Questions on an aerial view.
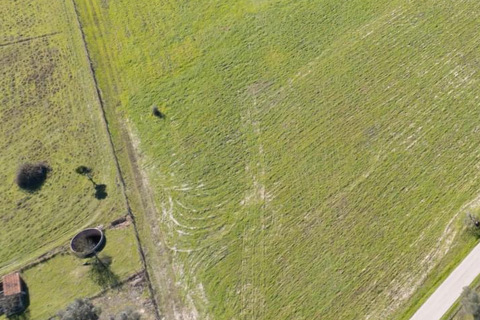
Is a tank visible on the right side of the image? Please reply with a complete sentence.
No, the scene shows no tank on the right side of the image.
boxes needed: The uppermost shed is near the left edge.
[3,267,33,305]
